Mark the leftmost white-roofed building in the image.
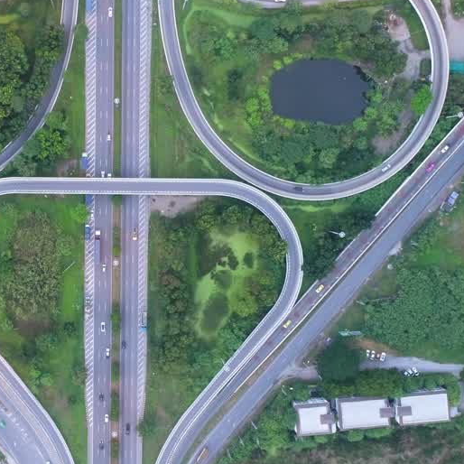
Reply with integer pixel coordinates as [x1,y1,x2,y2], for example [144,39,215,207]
[289,393,335,436]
